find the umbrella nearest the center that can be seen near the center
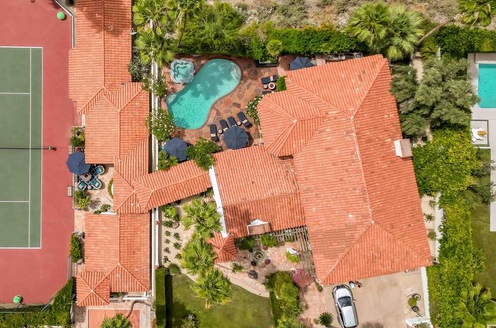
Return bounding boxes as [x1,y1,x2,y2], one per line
[223,123,249,149]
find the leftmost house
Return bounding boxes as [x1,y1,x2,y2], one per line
[69,0,150,307]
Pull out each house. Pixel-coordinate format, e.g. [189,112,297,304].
[209,54,431,286]
[69,0,150,307]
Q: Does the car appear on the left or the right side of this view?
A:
right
